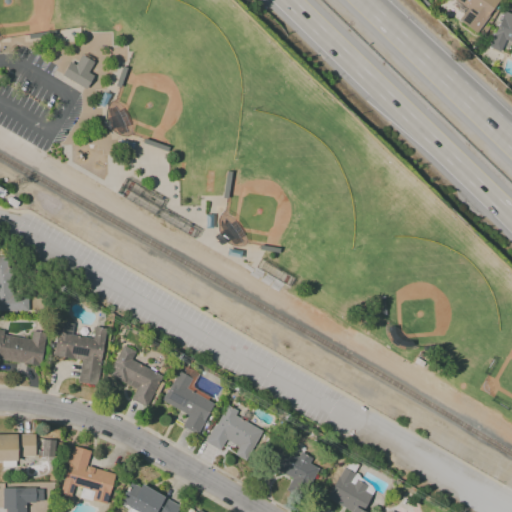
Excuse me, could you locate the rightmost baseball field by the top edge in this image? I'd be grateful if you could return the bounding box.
[108,0,242,159]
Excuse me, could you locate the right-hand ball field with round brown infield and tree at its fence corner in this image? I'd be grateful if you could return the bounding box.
[387,236,500,349]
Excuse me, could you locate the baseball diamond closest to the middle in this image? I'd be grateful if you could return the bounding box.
[219,108,356,248]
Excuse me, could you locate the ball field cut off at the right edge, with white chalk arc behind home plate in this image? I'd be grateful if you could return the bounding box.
[480,349,512,398]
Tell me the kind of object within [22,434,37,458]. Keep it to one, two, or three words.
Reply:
building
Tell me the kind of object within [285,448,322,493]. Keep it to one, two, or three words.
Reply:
house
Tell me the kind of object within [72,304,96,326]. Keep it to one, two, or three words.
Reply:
swimming pool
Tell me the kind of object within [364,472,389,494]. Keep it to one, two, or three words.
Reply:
swimming pool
